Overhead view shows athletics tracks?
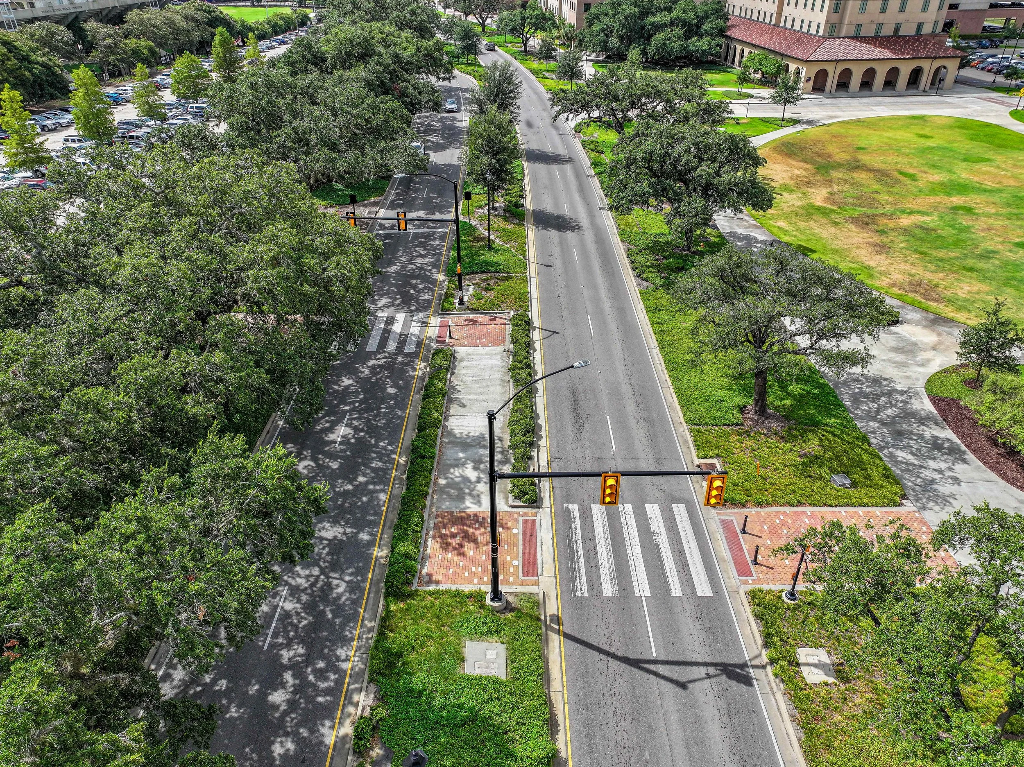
No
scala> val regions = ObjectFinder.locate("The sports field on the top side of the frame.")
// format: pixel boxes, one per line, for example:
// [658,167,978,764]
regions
[224,3,285,23]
